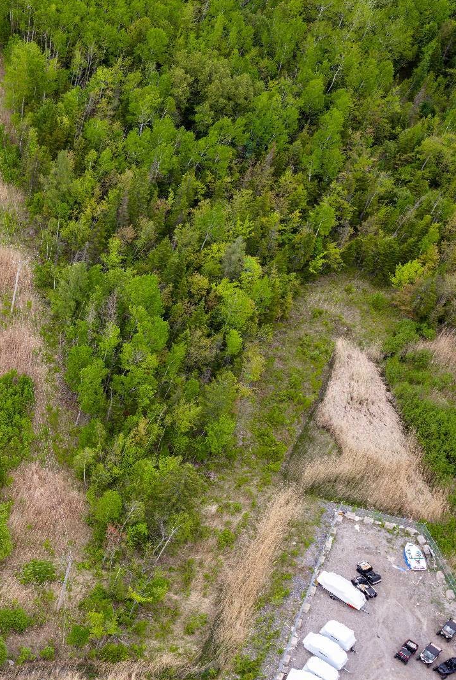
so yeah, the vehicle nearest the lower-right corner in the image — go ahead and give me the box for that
[437,658,456,679]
